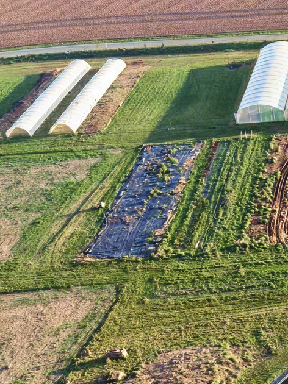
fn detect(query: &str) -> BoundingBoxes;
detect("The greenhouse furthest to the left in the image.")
[4,59,82,137]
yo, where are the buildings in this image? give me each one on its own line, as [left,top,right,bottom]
[4,59,82,137]
[234,44,288,123]
[49,55,121,133]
